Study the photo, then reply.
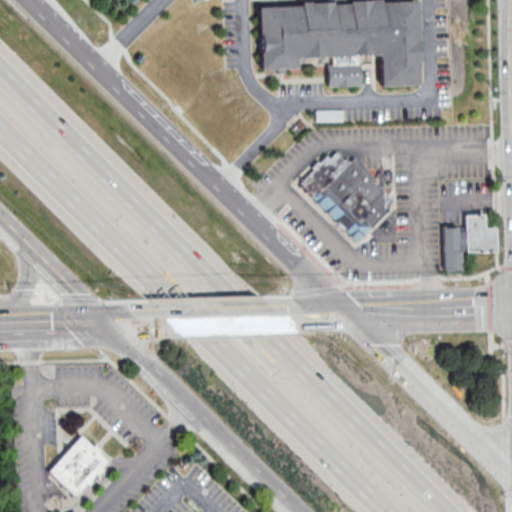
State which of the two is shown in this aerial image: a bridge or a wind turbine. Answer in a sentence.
The image shows a bridge.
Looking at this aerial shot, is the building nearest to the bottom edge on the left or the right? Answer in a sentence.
The building nearest to the bottom edge appears in the left half of the scene.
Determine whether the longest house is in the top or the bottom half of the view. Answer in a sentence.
The top half of the photo is where the longest house is.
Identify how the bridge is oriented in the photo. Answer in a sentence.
I'd say the bridge is aligned horizontally in the picture.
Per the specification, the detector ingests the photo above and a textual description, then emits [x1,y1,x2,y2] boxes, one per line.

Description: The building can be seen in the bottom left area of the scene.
[50,434,112,496]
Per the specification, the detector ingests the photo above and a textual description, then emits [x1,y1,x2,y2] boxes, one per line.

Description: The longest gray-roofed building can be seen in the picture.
[258,2,422,87]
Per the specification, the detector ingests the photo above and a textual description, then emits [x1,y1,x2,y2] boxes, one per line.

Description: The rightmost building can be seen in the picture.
[466,213,499,256]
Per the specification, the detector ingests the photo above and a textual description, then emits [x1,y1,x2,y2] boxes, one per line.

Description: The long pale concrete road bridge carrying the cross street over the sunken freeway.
[100,294,346,344]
